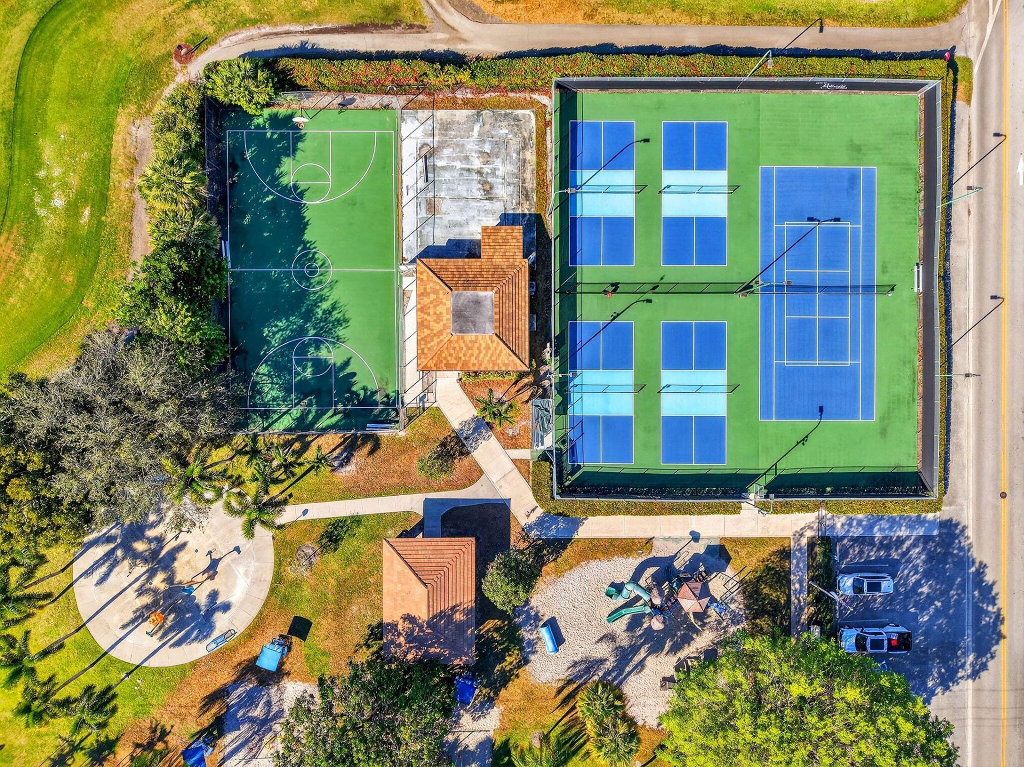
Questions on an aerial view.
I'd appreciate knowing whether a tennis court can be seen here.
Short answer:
Yes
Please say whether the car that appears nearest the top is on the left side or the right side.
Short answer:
right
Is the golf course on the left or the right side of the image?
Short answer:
left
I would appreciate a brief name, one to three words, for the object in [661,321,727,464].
sports court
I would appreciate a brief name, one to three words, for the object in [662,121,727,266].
sports court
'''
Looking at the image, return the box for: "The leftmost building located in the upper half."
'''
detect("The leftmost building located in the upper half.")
[416,226,529,372]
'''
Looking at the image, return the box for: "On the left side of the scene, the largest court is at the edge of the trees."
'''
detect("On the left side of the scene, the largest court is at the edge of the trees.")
[220,108,400,431]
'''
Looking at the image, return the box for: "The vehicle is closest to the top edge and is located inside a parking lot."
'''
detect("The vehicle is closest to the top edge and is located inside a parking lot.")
[836,572,891,598]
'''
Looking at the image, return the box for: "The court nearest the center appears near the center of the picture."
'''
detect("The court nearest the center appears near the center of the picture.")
[568,321,634,464]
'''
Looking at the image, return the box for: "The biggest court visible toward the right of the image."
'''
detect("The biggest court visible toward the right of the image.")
[759,94,919,485]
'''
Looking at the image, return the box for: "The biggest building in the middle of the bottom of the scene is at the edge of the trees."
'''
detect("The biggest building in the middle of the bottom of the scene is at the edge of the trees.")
[382,533,476,666]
